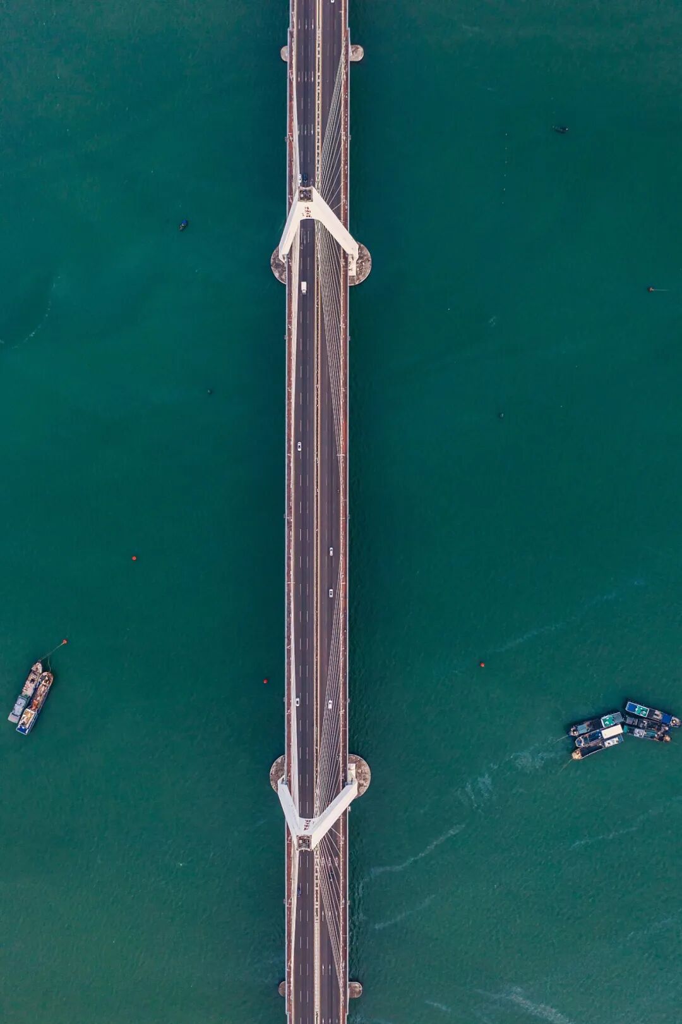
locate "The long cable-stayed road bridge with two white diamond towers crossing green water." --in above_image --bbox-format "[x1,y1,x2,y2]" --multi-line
[270,0,372,1024]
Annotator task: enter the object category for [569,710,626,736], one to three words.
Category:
boat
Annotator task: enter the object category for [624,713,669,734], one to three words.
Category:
boat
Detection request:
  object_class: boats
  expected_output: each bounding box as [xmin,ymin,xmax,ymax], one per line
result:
[624,713,669,734]
[623,726,671,744]
[569,710,626,736]
[17,671,53,735]
[571,736,626,759]
[624,699,681,725]
[574,723,627,745]
[178,221,188,232]
[6,660,43,723]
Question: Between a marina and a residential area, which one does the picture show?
marina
